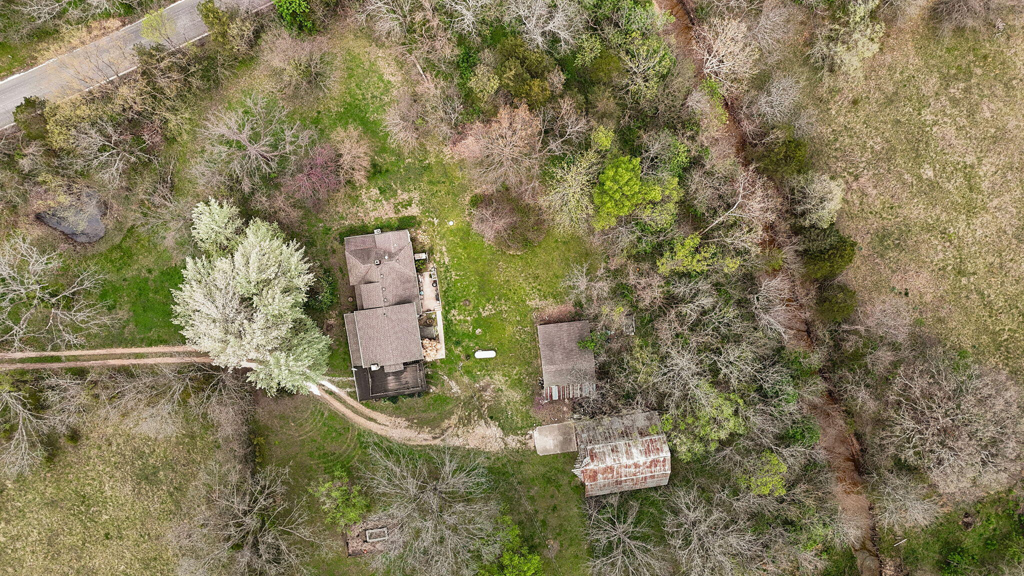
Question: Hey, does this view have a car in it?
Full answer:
No, I can't see a single car in this photo.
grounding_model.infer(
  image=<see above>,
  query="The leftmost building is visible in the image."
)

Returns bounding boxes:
[343,229,427,401]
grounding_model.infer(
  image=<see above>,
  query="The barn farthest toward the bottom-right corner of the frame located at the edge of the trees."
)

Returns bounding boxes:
[571,410,671,497]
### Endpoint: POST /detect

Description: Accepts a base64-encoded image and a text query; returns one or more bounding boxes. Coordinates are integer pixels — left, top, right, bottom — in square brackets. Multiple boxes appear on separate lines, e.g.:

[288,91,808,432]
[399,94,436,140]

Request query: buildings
[343,229,427,401]
[537,320,596,402]
[571,410,671,497]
